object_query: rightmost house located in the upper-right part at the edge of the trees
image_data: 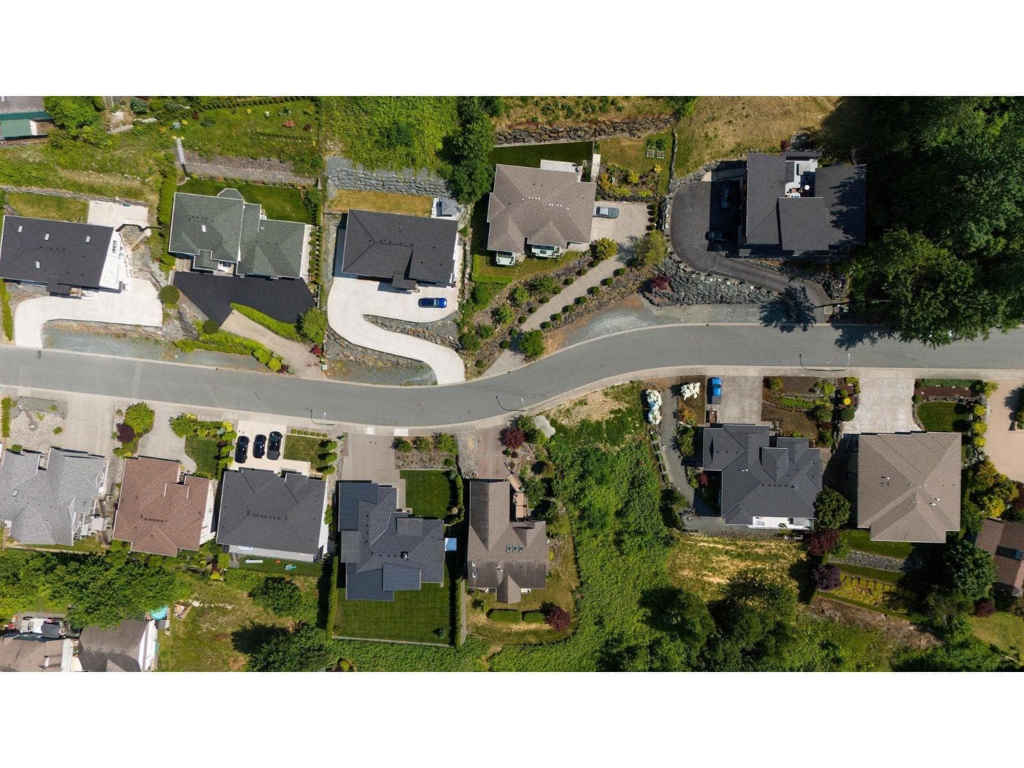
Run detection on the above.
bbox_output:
[732,151,867,257]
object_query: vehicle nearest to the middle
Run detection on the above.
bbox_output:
[419,295,446,308]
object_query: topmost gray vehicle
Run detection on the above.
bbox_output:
[594,205,619,218]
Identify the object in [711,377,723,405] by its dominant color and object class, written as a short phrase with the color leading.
blue vehicle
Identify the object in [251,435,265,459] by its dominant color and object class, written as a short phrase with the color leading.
black car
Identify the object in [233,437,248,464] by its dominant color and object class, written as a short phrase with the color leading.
black car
